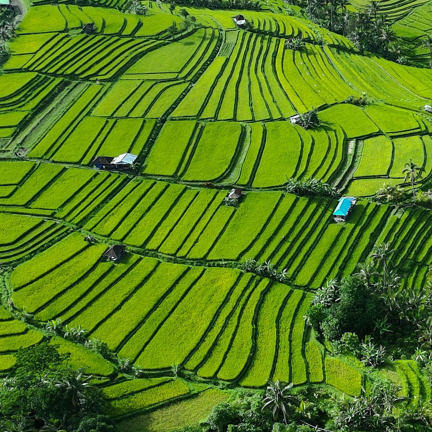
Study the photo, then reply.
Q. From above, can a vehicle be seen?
No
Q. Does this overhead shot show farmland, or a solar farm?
farmland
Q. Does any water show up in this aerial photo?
No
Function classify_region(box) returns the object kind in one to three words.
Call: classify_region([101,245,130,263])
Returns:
shed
